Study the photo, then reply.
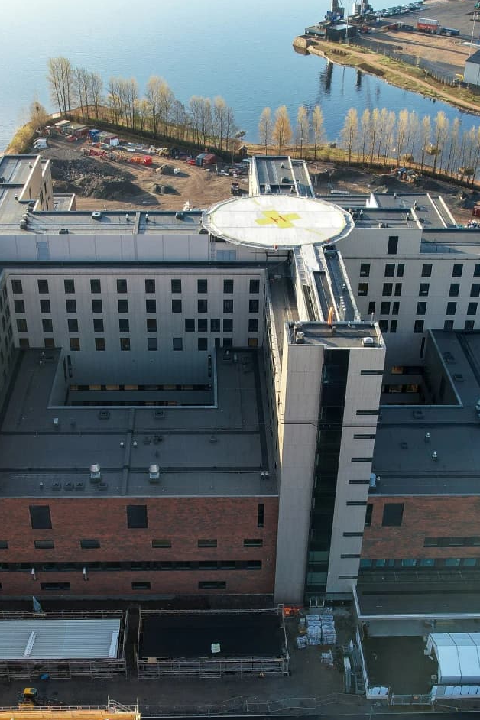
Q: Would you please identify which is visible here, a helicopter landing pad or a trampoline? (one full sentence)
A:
This aerial view contains a helicopter landing pad.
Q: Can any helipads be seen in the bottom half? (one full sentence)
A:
No, there's no helipad to be seen in the bottom half.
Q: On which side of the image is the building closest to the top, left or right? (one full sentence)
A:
The building closest to the top sits on the right side.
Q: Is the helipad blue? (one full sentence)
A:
No, the color of the helipad is white.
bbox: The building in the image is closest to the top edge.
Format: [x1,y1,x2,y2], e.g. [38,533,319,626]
[328,22,361,42]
